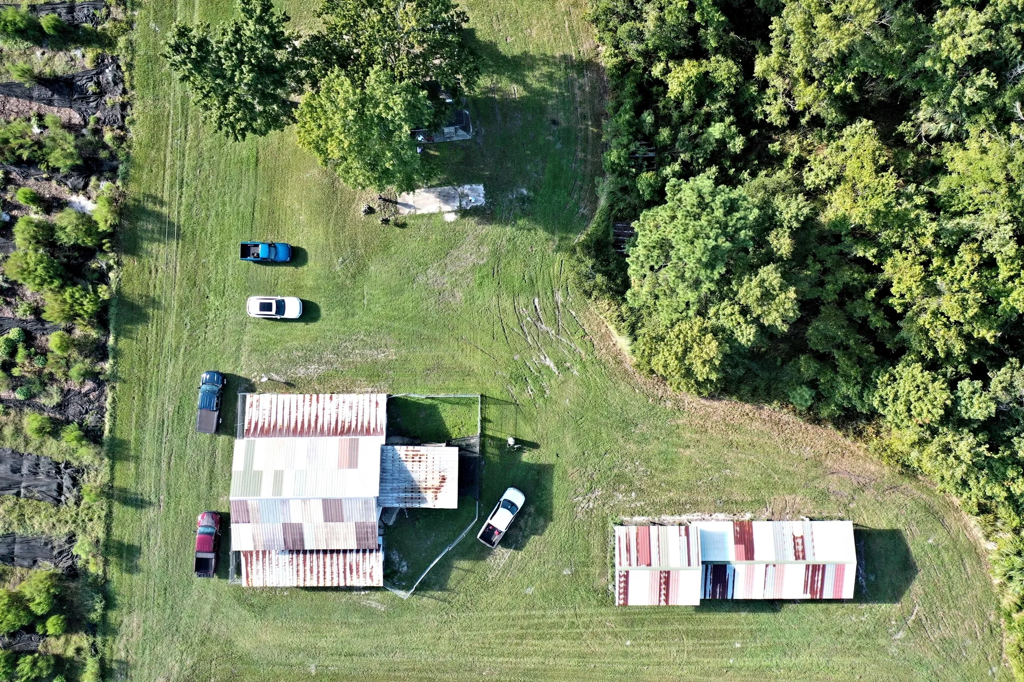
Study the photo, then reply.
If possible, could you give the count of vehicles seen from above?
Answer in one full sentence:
The count of vehicles comes to 5.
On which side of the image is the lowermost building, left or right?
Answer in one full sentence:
The lowermost building appears in the right half of the scene.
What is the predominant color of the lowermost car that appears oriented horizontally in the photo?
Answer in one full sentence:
From above, the lowermost car that appears oriented horizontally appears white.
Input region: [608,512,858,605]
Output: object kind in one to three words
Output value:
building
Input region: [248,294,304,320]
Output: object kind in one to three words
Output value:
car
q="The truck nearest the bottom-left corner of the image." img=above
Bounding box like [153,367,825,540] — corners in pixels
[194,511,222,575]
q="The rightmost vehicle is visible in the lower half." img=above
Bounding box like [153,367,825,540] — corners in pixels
[477,484,524,550]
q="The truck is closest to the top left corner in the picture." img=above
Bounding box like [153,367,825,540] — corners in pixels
[240,240,294,264]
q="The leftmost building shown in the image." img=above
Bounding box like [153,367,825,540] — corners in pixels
[229,392,391,588]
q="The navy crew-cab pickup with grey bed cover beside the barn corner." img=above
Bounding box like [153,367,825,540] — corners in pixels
[195,369,226,434]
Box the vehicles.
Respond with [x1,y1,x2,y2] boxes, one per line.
[195,369,226,434]
[248,294,304,320]
[240,240,294,264]
[194,511,222,575]
[477,484,524,550]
